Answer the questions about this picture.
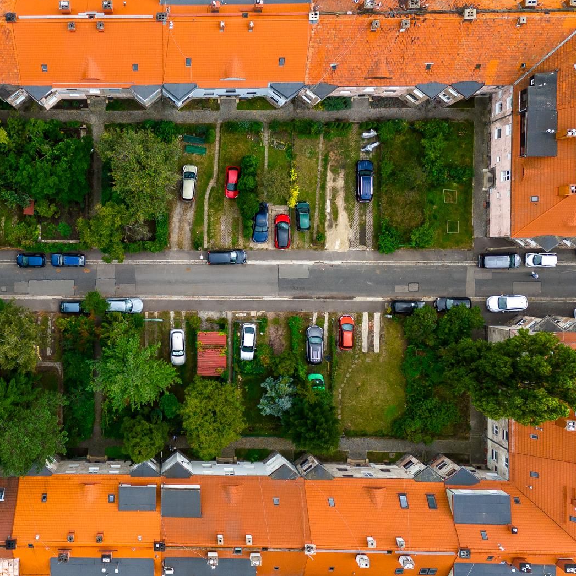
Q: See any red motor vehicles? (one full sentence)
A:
Yes, I can see a red motor vehicle in this picture.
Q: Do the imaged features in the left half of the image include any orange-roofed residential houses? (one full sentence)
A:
Yes, I can see an orange-roofed residential house in the left half of the image.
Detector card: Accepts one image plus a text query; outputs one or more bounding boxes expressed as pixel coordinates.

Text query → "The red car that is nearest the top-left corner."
[224,165,241,199]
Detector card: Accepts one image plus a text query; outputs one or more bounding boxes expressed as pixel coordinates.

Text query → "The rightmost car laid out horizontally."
[523,252,557,268]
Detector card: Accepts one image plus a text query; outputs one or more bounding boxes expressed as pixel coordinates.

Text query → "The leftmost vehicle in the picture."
[17,252,46,267]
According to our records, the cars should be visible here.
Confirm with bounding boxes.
[238,322,255,360]
[434,296,472,313]
[17,252,46,267]
[339,314,355,350]
[484,294,527,312]
[169,328,186,365]
[295,201,311,231]
[181,164,197,201]
[390,299,424,314]
[274,214,290,249]
[308,373,326,398]
[476,253,520,269]
[59,299,91,314]
[355,159,375,202]
[306,324,324,364]
[52,253,86,267]
[104,297,142,314]
[252,201,268,244]
[523,252,557,268]
[224,165,241,199]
